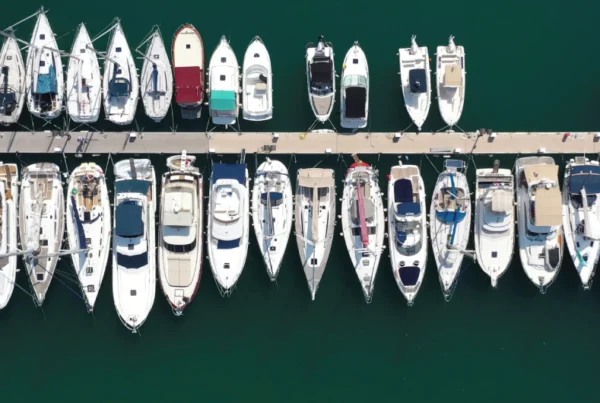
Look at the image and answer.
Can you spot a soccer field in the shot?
No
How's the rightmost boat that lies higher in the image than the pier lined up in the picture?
from top to bottom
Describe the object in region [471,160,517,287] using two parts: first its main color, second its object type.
white boat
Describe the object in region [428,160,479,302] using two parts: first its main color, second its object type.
white boat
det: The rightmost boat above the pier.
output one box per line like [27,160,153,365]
[434,34,467,127]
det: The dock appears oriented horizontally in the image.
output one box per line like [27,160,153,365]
[0,132,600,153]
